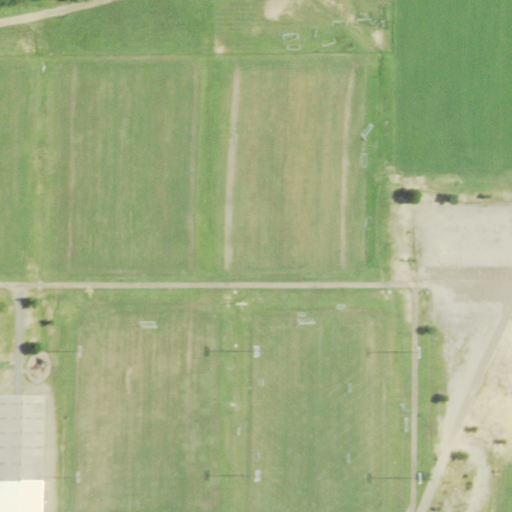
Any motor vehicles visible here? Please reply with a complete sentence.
No, I can't see a single motor vehicle in this photo.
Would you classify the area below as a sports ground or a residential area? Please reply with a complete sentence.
This looks like a sports ground.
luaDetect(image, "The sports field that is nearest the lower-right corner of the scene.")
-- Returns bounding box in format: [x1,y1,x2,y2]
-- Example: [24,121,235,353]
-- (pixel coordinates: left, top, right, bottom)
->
[252,311,389,512]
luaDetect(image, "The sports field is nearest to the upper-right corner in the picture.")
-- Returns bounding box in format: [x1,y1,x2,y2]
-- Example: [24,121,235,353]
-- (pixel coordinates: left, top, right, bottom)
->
[222,62,357,278]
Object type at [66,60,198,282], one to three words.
sports field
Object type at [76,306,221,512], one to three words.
sports field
